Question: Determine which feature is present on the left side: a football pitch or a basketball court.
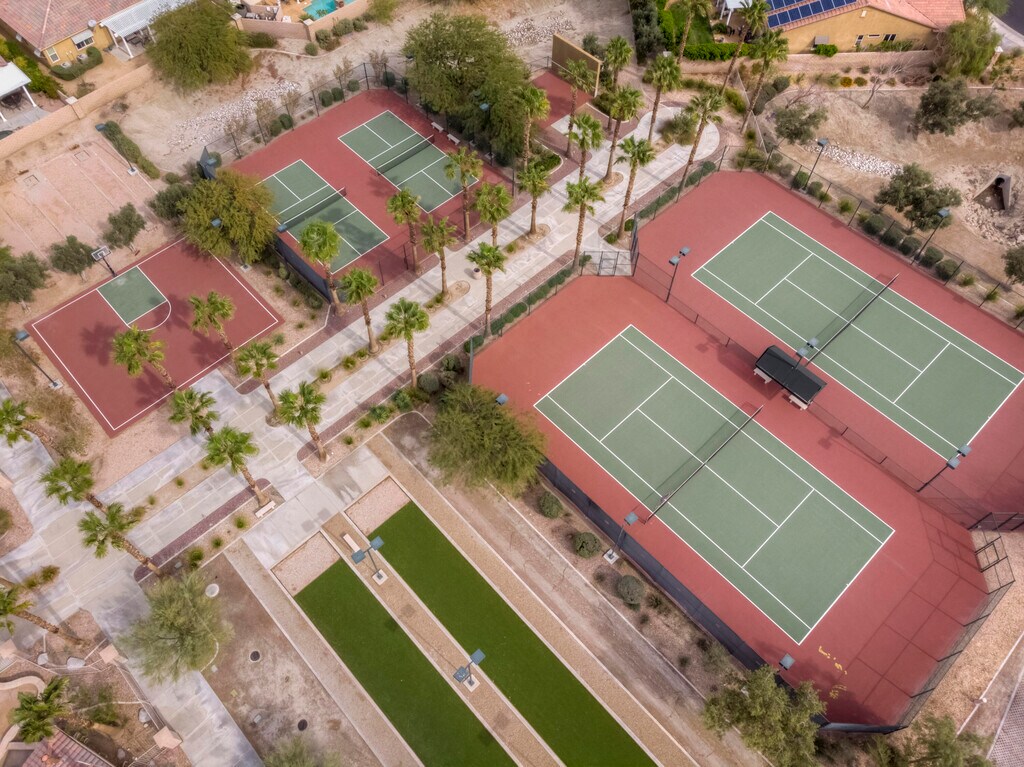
basketball court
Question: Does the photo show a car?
No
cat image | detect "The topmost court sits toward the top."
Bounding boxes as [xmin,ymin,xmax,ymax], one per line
[491,71,590,141]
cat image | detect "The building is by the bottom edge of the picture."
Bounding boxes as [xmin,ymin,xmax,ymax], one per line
[21,731,111,767]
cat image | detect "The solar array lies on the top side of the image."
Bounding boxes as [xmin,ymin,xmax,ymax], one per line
[758,0,857,27]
